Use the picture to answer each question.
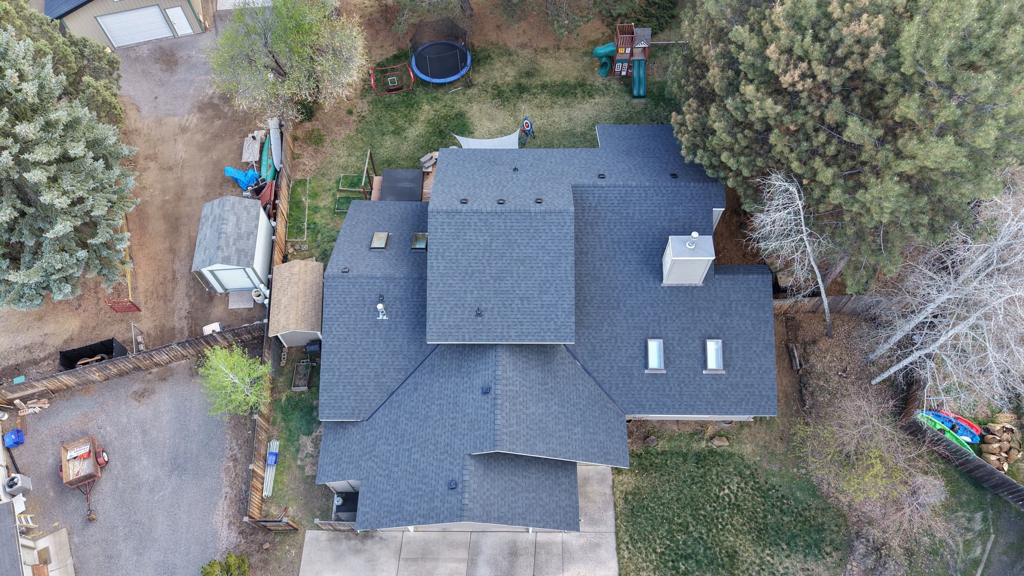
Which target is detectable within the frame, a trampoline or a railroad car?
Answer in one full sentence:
The image shows a trampoline.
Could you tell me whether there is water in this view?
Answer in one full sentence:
No, the scene doesn't show any water.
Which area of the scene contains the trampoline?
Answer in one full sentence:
The trampoline sits in the top section of the image.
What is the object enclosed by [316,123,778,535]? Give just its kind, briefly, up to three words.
house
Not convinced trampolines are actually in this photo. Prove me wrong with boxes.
[404,16,473,96]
